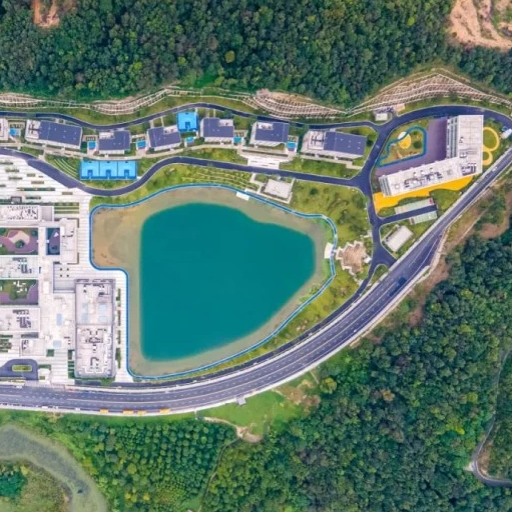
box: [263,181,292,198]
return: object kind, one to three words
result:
building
